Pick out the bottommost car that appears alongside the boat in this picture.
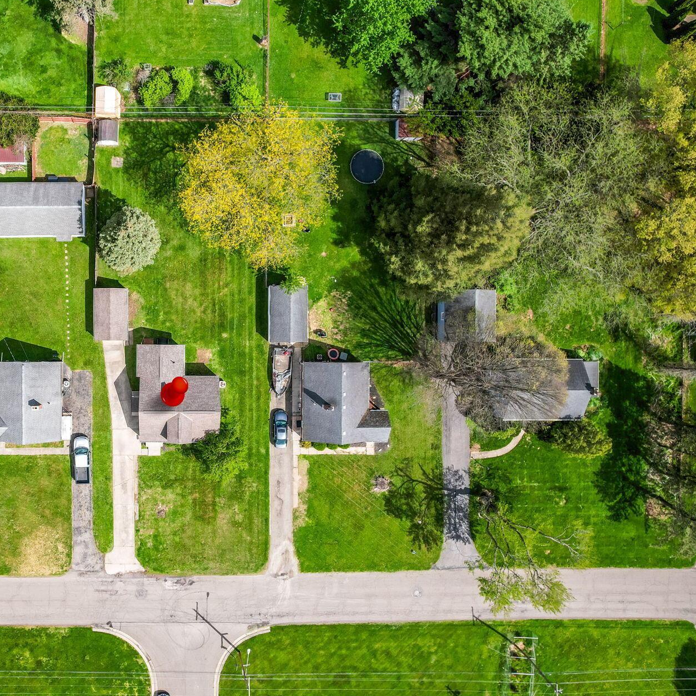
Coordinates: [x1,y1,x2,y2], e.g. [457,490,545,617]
[271,408,291,451]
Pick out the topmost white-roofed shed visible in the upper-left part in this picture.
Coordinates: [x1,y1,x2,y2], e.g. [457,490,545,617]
[95,83,120,123]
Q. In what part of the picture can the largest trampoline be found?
top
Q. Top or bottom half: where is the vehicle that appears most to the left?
bottom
